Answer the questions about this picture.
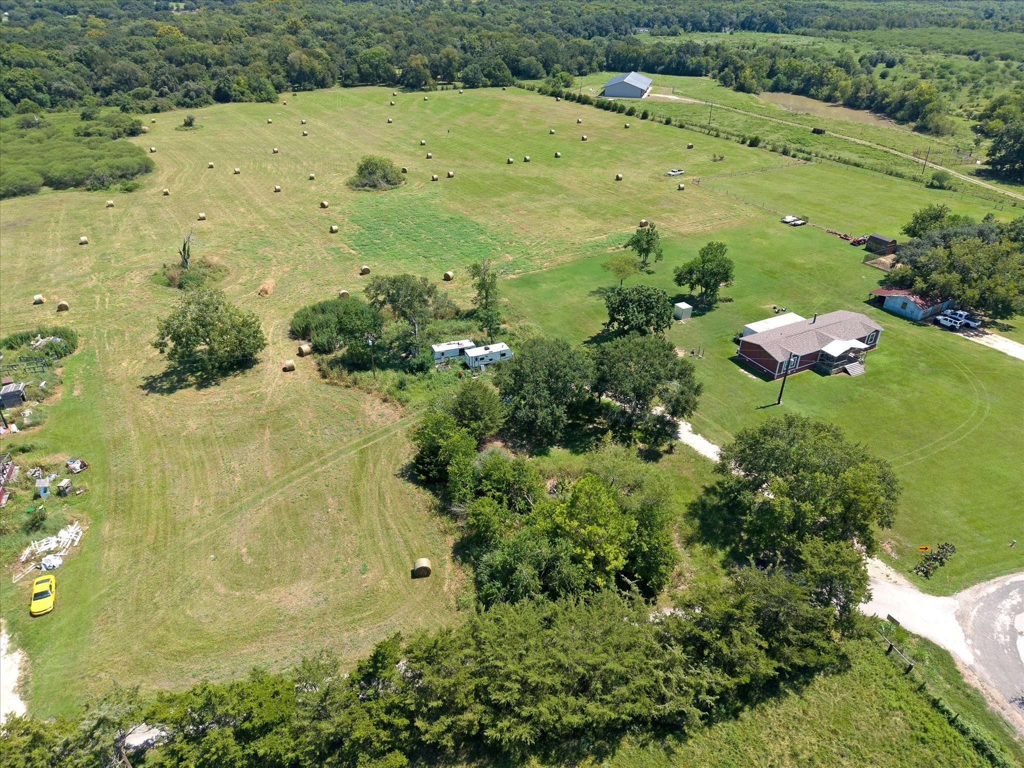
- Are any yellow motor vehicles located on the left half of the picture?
Yes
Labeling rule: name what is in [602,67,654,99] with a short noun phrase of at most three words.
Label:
building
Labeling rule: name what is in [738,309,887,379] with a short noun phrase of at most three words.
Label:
house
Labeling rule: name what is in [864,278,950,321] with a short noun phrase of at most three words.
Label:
barn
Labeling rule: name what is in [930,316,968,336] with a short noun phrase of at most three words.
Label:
car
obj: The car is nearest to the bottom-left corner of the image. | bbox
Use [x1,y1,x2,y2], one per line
[25,568,62,616]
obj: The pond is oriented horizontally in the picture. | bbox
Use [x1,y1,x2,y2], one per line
[762,96,898,132]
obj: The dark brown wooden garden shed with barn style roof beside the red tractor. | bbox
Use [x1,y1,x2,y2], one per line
[867,231,901,257]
